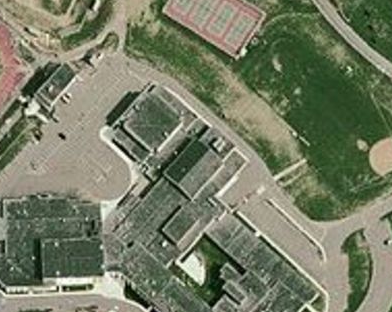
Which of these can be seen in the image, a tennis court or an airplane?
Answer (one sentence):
The one in the frame is a tennis court.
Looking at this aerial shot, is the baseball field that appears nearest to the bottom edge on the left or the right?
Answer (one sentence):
You can find the baseball field that appears nearest to the bottom edge on the right side of the picture.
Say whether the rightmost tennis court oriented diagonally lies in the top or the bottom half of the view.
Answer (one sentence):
You can find the rightmost tennis court oriented diagonally in the top half.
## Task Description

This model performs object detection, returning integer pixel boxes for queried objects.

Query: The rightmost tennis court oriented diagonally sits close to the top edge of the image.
[225,13,255,49]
